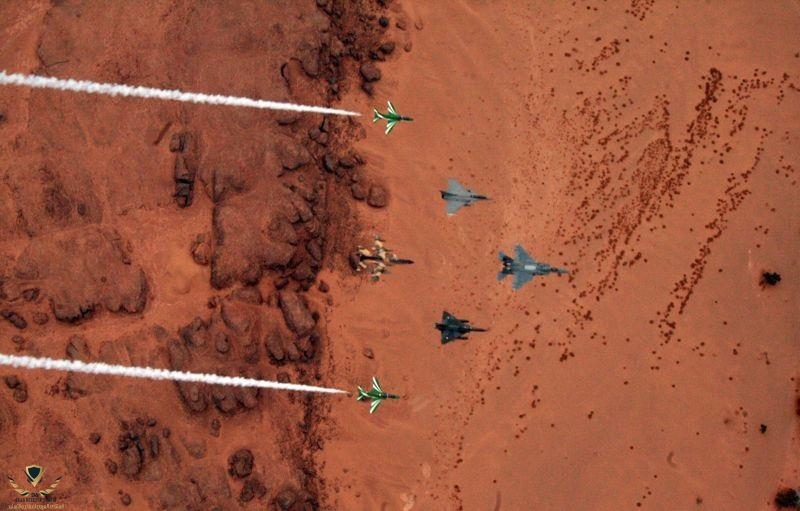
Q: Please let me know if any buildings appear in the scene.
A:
No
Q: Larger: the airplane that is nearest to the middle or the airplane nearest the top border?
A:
the airplane that is nearest to the middle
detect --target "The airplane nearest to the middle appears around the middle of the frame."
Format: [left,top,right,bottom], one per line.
[357,236,416,281]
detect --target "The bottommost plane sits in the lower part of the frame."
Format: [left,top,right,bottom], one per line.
[357,376,400,413]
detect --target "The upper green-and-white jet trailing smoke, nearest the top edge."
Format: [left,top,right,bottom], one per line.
[373,99,414,134]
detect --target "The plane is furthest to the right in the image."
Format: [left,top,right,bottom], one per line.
[498,244,568,291]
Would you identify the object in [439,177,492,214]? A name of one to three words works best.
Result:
airplane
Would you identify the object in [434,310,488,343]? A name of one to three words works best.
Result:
airplane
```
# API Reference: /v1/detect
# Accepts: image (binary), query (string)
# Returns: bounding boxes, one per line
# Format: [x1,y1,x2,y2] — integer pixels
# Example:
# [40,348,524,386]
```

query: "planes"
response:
[439,177,492,214]
[373,99,414,134]
[434,310,488,343]
[357,236,416,281]
[357,376,400,413]
[498,244,568,291]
